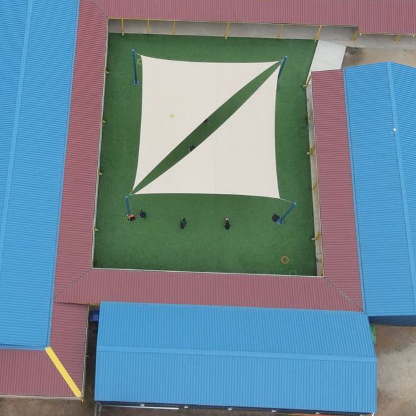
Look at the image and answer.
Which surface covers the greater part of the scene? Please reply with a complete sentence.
The scene is dominated by buildings.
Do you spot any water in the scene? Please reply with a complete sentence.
No, the picture contains no water.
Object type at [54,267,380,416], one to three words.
building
